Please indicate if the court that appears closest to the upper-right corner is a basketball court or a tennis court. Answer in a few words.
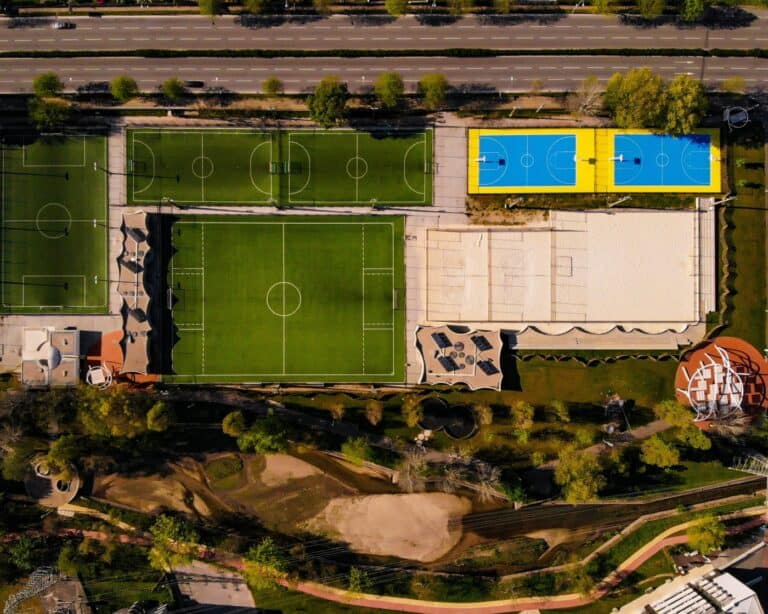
basketball court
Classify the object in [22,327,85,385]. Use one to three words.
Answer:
building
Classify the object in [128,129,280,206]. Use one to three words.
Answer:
soccer field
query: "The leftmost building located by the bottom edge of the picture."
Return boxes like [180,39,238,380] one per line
[40,576,96,614]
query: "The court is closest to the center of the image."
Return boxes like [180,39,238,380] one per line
[427,231,488,321]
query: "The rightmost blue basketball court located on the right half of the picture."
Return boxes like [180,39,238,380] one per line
[602,129,721,193]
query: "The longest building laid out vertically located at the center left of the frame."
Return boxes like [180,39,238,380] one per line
[115,210,154,376]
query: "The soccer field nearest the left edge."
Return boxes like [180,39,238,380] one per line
[0,130,107,313]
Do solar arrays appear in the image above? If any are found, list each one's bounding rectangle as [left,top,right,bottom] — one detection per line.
[440,355,457,373]
[481,359,496,376]
[474,334,490,352]
[434,331,450,349]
